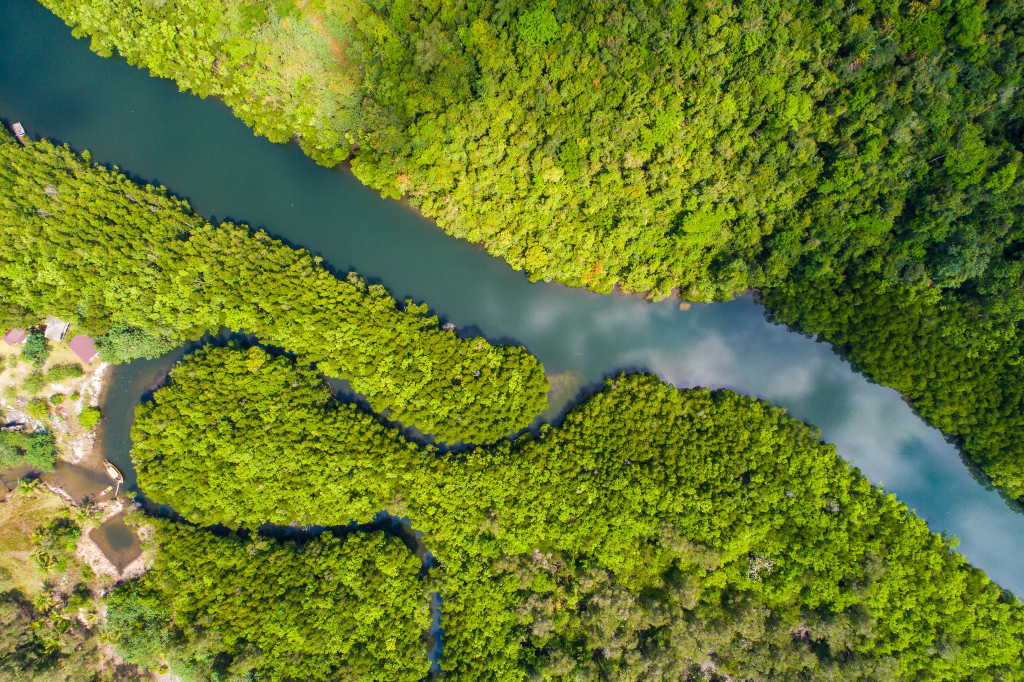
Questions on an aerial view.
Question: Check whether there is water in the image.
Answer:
Yes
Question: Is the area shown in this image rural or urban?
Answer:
rural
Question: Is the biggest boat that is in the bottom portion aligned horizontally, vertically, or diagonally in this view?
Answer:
diagonally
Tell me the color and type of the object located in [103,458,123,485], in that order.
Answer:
white boat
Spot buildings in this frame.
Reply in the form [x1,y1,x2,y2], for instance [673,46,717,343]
[68,339,96,366]
[43,317,70,343]
[4,325,32,346]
